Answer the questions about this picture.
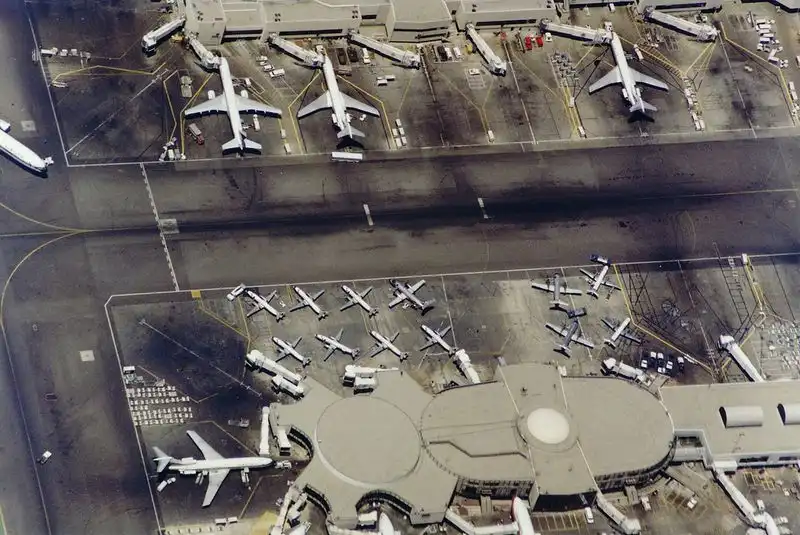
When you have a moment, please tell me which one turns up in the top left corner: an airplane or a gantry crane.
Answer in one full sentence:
What appears in the top left corner is an airplane.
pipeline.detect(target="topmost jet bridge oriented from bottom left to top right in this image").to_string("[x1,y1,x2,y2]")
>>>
[142,14,186,48]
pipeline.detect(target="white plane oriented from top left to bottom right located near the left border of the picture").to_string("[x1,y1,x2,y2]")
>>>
[0,115,47,168]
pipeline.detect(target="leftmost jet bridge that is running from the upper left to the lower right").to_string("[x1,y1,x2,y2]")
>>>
[185,34,221,68]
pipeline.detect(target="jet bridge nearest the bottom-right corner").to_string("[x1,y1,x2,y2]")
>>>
[709,463,766,523]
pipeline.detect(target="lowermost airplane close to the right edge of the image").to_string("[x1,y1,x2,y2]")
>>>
[763,512,785,535]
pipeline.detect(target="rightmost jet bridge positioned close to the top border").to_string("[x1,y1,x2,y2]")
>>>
[644,7,720,41]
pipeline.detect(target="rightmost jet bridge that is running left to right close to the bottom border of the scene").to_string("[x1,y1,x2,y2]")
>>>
[440,508,520,535]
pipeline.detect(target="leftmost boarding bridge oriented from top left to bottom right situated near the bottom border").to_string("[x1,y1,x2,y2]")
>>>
[593,491,640,532]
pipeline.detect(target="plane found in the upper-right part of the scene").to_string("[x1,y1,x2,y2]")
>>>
[594,34,671,113]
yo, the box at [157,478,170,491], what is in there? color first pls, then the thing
white vehicle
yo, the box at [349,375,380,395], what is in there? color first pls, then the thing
white jet bridge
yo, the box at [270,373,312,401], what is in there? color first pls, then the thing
white jet bridge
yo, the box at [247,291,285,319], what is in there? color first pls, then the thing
white airplane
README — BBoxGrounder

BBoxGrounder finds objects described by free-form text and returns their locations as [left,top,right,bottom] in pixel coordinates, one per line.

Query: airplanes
[186,57,281,147]
[316,329,360,360]
[511,498,529,535]
[421,325,459,353]
[763,512,785,535]
[155,430,274,504]
[291,287,329,317]
[296,52,378,132]
[247,291,285,319]
[380,510,396,535]
[545,320,593,355]
[601,319,639,346]
[370,332,409,361]
[531,274,581,311]
[273,336,312,365]
[0,115,47,168]
[388,280,434,312]
[341,286,380,314]
[580,266,621,295]
[594,34,671,113]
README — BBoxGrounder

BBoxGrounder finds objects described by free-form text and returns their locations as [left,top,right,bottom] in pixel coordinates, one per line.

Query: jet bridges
[709,463,766,523]
[464,21,509,76]
[255,403,271,457]
[349,375,380,395]
[270,373,312,401]
[244,350,311,390]
[346,29,423,70]
[593,491,640,532]
[718,336,768,383]
[454,346,481,385]
[602,358,654,390]
[142,14,186,48]
[540,17,614,45]
[644,7,720,41]
[440,508,520,535]
[270,479,295,535]
[342,363,384,378]
[267,31,327,69]
[325,523,383,535]
[185,34,221,68]
[286,486,309,520]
